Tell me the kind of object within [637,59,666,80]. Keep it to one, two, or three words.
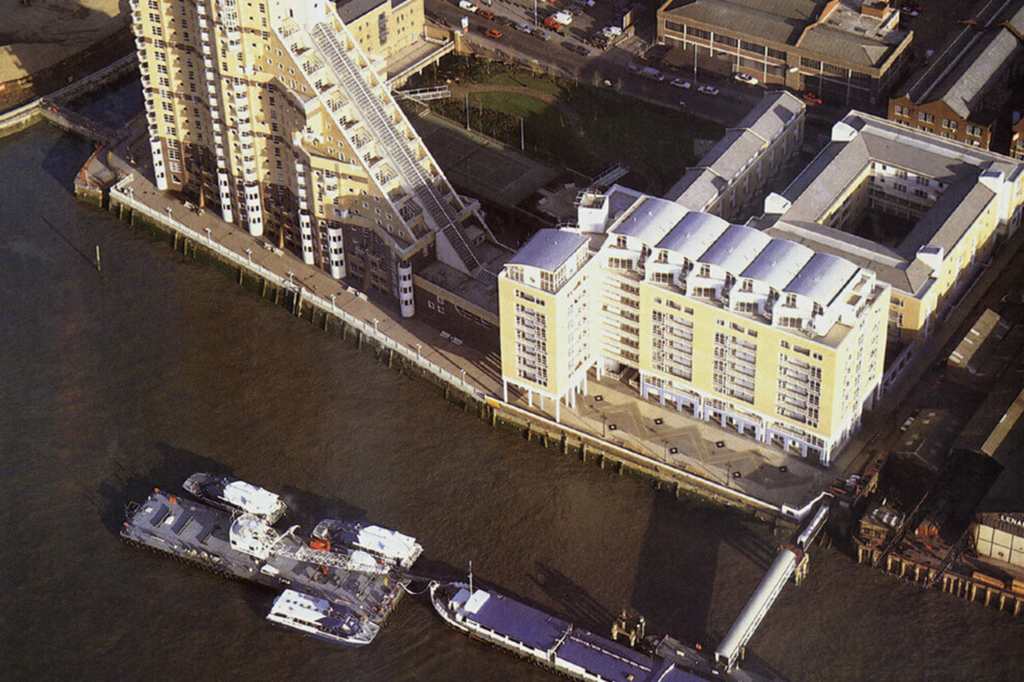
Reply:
vehicle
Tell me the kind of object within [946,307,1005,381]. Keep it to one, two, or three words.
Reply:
shed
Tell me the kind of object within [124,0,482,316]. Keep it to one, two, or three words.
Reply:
building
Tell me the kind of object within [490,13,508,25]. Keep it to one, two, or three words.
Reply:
vehicle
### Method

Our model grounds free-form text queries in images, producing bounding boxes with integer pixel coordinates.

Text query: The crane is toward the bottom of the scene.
[229,509,389,576]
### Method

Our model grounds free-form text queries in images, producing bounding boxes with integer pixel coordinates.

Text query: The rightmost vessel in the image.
[424,554,726,682]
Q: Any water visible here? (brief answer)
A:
Yes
